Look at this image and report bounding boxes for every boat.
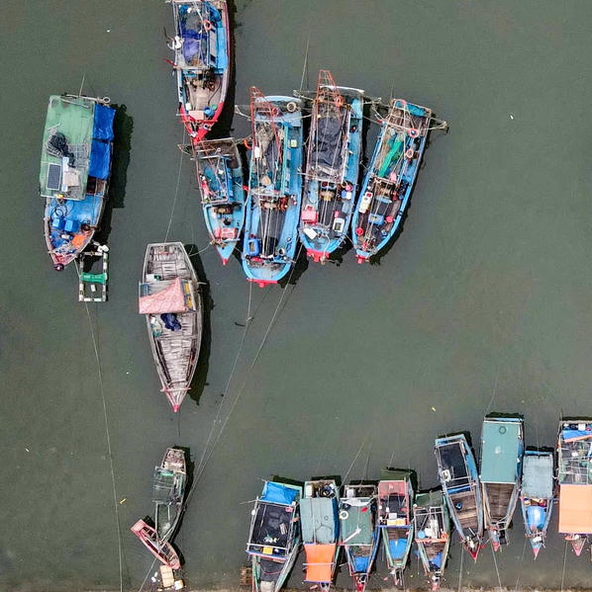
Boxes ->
[153,447,188,550]
[338,484,379,592]
[480,416,524,554]
[235,478,302,592]
[377,472,415,589]
[414,491,451,591]
[520,450,557,561]
[130,519,181,572]
[163,0,229,146]
[557,419,592,556]
[300,477,342,592]
[353,82,446,266]
[41,82,118,270]
[235,87,310,288]
[434,433,482,562]
[294,70,380,263]
[190,138,247,264]
[139,241,207,411]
